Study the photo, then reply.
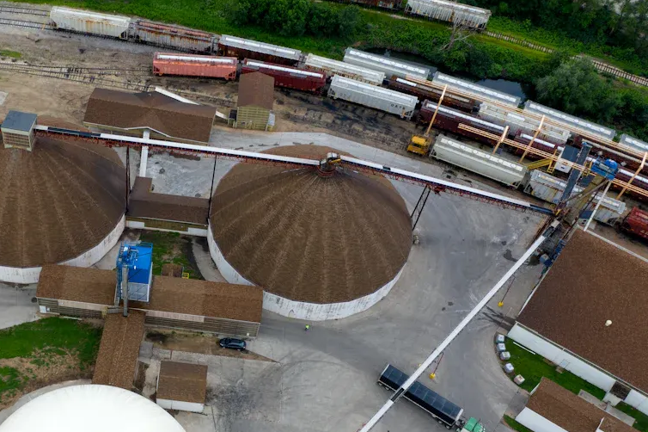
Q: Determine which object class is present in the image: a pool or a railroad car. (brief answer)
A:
railroad car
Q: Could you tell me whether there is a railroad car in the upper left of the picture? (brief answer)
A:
Yes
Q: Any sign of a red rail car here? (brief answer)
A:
Yes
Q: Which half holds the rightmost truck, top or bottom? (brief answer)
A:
bottom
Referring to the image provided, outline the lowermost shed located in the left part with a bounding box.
[156,359,207,412]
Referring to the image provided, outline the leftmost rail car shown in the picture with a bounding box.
[52,7,131,39]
